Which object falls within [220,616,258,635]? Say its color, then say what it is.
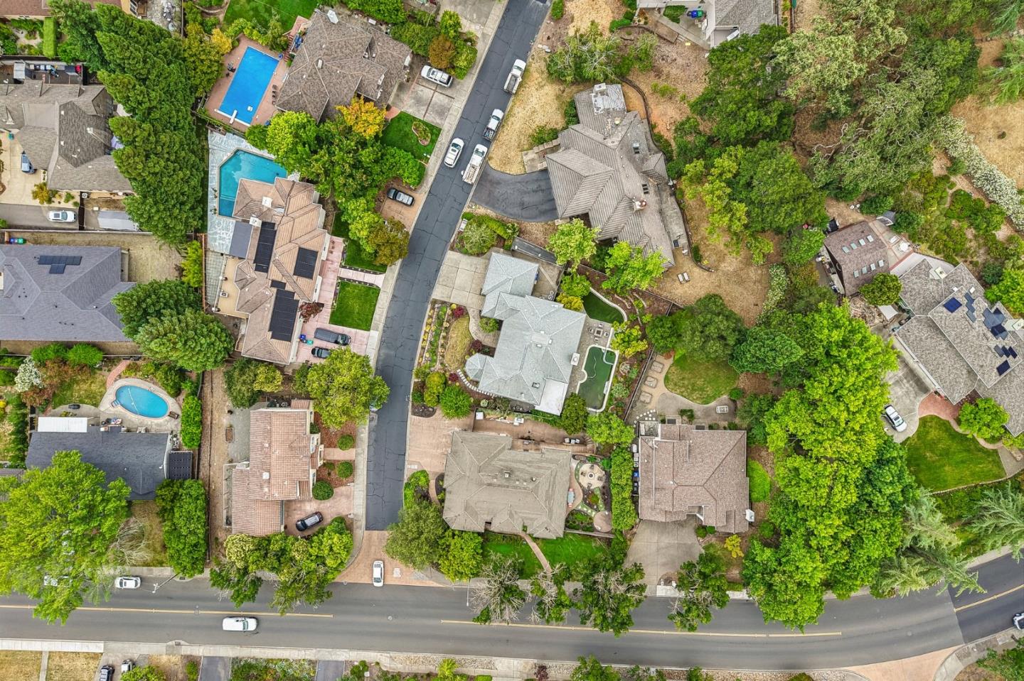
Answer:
white vehicle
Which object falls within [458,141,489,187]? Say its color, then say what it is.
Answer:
white truck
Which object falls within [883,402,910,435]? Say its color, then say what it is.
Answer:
white car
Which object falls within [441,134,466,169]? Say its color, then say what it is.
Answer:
white car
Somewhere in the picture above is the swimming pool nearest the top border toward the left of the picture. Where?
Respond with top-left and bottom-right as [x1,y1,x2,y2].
[213,41,278,127]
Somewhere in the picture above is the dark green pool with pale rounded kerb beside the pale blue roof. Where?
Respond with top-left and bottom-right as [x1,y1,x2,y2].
[575,342,620,412]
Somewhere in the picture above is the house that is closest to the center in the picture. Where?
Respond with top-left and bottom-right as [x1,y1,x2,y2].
[463,251,589,414]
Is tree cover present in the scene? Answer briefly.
Yes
